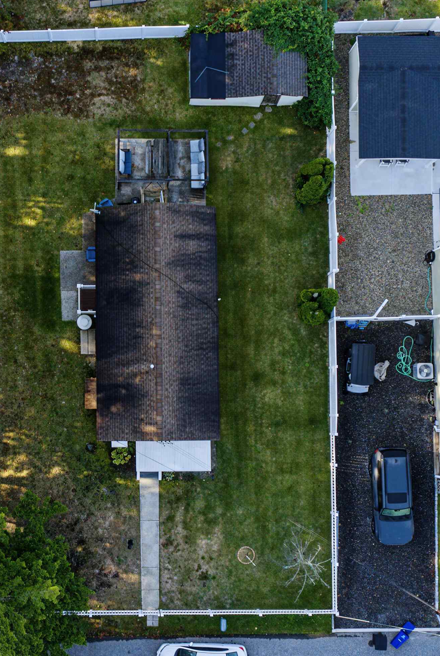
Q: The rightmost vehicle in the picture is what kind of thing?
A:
car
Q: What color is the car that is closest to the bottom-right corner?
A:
blue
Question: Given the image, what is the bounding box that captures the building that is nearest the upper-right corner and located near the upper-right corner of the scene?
[349,37,440,168]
